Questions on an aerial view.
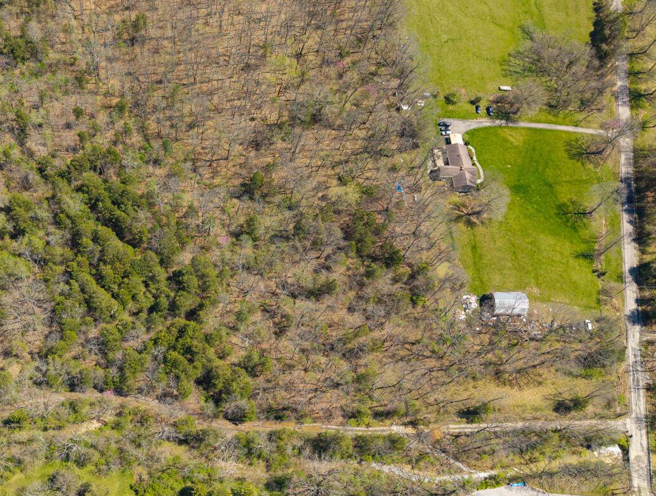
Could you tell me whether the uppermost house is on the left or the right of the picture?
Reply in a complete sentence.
It is on the right.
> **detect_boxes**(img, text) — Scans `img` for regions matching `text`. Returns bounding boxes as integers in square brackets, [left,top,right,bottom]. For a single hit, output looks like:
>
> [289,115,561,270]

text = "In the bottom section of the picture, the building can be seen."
[490,294,530,319]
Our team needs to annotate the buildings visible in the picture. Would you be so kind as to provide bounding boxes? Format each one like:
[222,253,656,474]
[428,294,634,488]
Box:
[490,294,530,319]
[439,133,479,191]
